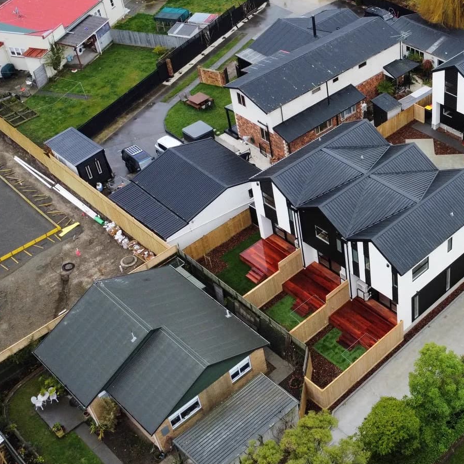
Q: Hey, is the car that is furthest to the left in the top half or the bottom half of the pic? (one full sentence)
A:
It is in the top half that the car that is furthest to the left appears.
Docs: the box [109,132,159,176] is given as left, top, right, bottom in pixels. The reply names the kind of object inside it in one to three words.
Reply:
car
